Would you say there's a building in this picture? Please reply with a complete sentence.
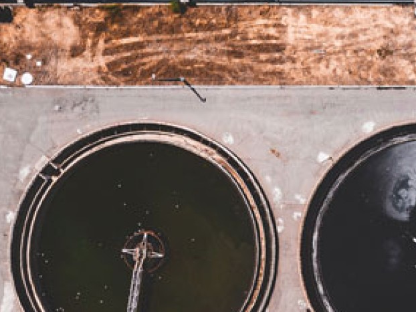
No, there's no building here.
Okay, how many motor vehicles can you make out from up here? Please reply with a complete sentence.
The photo contains no motor vehicles.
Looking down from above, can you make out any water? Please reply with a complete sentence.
Yes, the picture does contain water.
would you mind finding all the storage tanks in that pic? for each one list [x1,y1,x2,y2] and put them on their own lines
[299,122,416,312]
[10,122,275,312]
